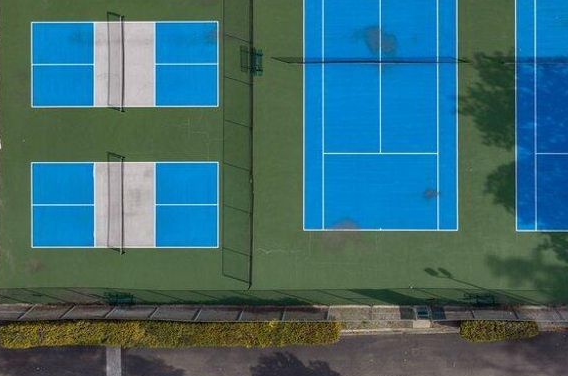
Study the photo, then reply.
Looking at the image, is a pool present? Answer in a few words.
No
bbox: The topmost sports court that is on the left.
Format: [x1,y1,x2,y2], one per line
[32,21,218,107]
